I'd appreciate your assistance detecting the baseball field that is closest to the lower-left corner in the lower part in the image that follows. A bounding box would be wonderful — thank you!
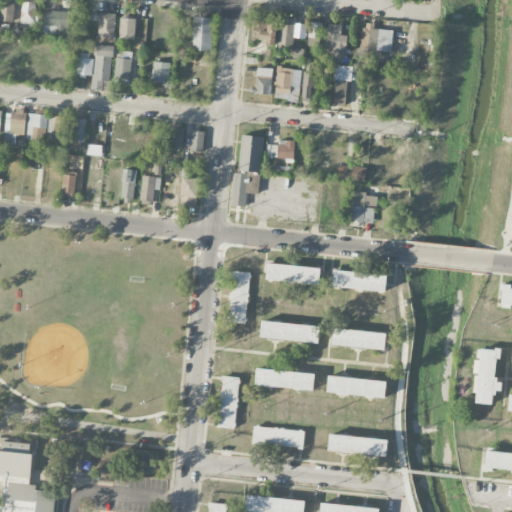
[23,322,89,388]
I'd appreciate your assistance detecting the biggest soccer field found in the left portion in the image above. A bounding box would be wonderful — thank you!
[92,278,162,388]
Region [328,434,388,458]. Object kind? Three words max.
building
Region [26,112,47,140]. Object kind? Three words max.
house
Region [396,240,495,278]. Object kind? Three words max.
bridge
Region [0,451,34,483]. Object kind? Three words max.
building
